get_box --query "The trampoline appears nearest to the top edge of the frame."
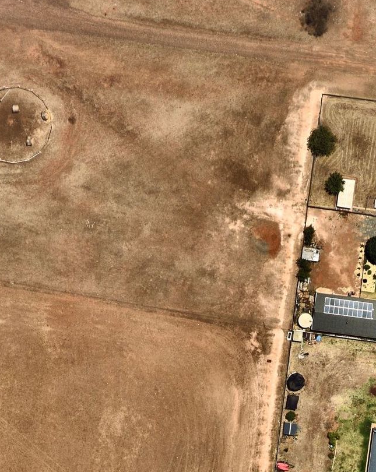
[287,374,305,391]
